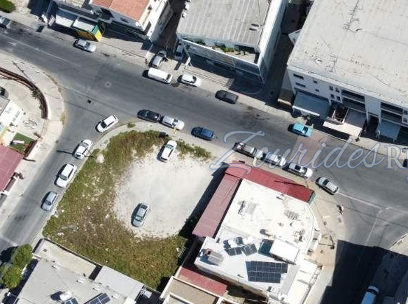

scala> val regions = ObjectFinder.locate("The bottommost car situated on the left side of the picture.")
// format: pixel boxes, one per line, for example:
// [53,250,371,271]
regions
[130,201,149,229]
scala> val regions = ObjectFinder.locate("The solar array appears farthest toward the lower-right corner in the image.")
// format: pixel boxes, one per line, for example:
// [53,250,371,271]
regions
[246,261,288,283]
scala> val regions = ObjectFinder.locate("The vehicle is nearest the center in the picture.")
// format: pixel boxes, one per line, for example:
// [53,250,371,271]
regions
[190,127,214,141]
